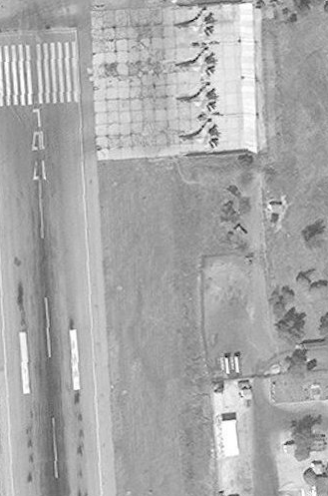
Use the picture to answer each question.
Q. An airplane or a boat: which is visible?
airplane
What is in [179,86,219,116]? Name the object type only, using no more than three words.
airplane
